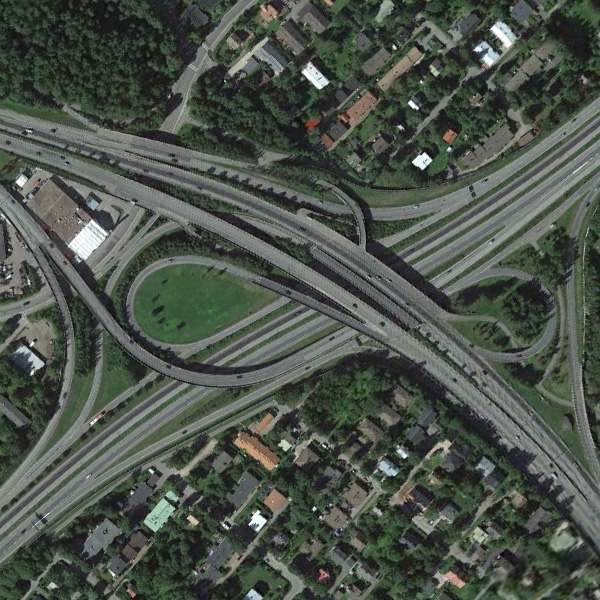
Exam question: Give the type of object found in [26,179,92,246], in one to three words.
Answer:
building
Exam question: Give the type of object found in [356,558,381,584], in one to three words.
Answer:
house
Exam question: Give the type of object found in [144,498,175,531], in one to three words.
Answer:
building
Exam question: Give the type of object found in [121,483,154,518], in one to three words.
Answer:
house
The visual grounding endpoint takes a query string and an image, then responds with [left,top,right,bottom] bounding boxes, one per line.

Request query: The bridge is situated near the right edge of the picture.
[572,369,600,489]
